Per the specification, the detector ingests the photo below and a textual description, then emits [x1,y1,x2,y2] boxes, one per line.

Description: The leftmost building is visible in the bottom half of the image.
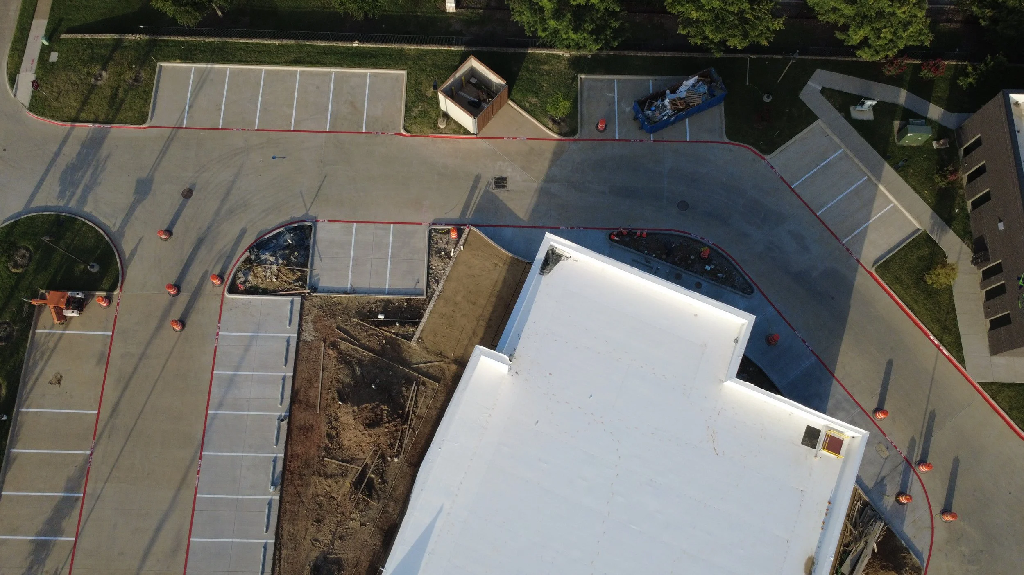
[370,233,868,575]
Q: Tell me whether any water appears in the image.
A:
No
